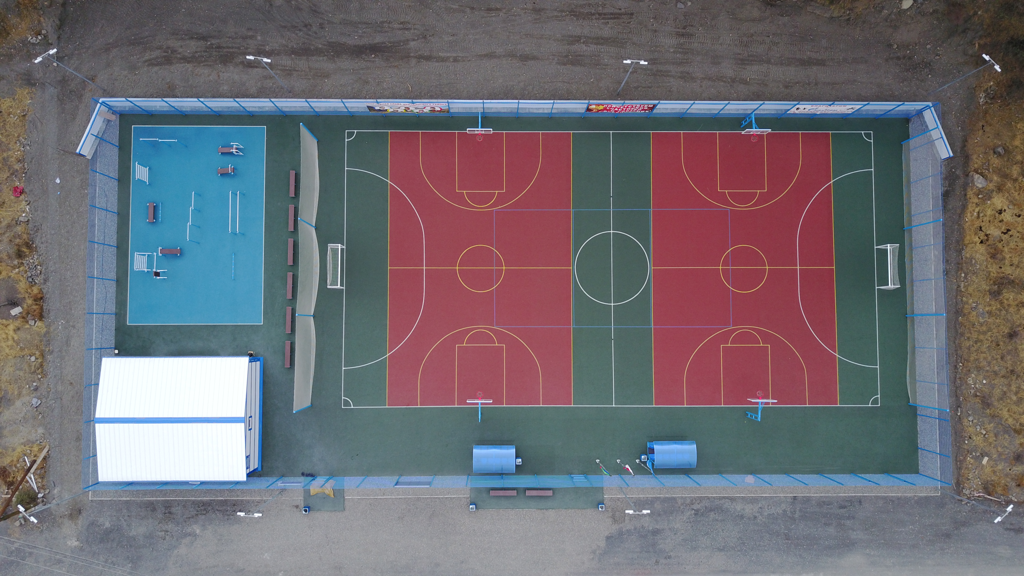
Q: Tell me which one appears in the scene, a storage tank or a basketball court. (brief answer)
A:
basketball court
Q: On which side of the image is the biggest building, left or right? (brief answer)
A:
left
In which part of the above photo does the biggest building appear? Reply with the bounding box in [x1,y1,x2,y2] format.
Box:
[93,355,263,483]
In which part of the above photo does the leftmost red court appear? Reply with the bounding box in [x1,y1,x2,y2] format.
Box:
[387,132,573,406]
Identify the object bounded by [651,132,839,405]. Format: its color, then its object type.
red basketball court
